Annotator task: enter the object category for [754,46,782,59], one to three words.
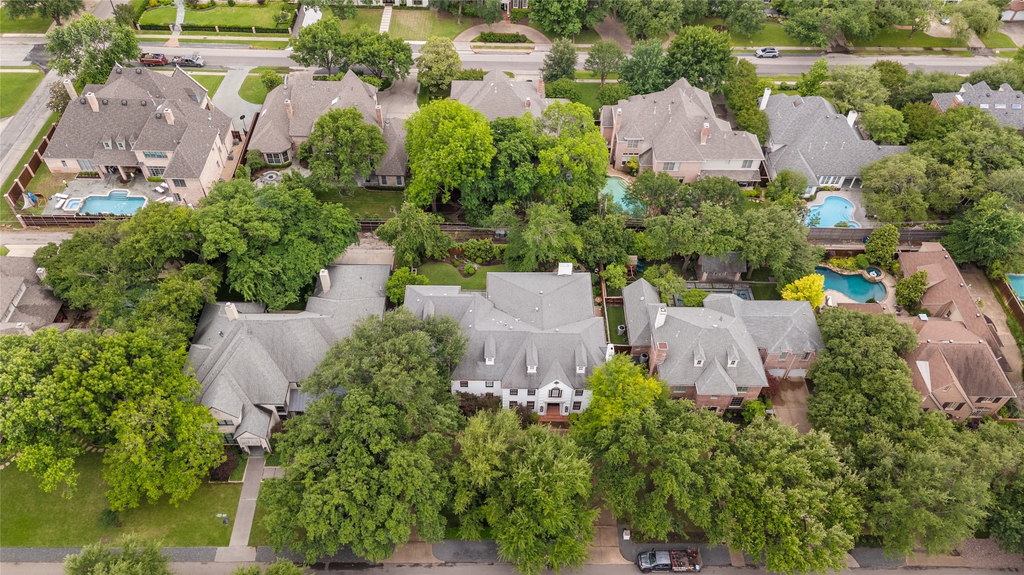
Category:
vehicle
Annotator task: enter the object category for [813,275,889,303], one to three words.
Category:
swimming pool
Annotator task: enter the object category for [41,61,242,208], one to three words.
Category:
house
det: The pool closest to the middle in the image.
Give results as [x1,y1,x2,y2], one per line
[599,174,648,216]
